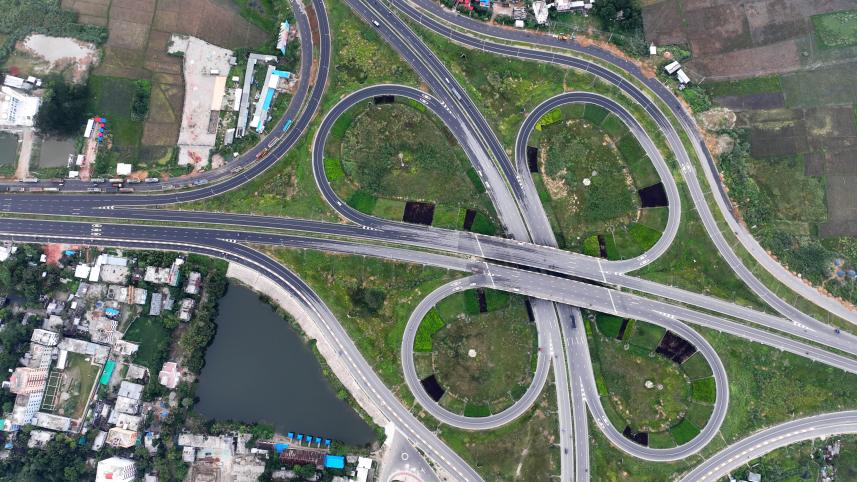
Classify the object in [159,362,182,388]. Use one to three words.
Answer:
house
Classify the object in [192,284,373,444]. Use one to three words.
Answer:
pond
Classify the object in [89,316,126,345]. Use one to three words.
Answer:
building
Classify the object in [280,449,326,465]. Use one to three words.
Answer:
shed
